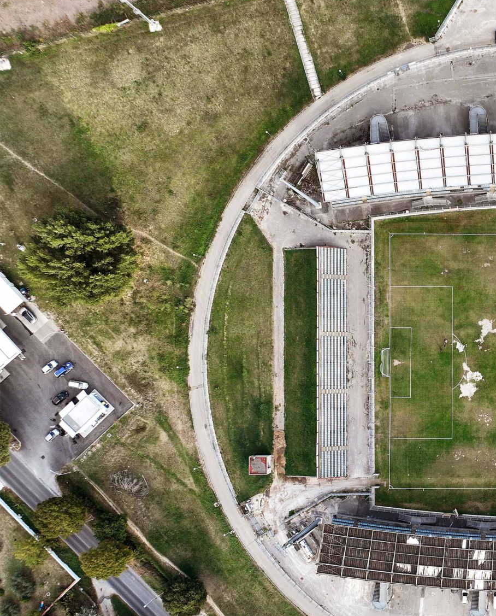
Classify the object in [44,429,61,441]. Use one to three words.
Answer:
vehicle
